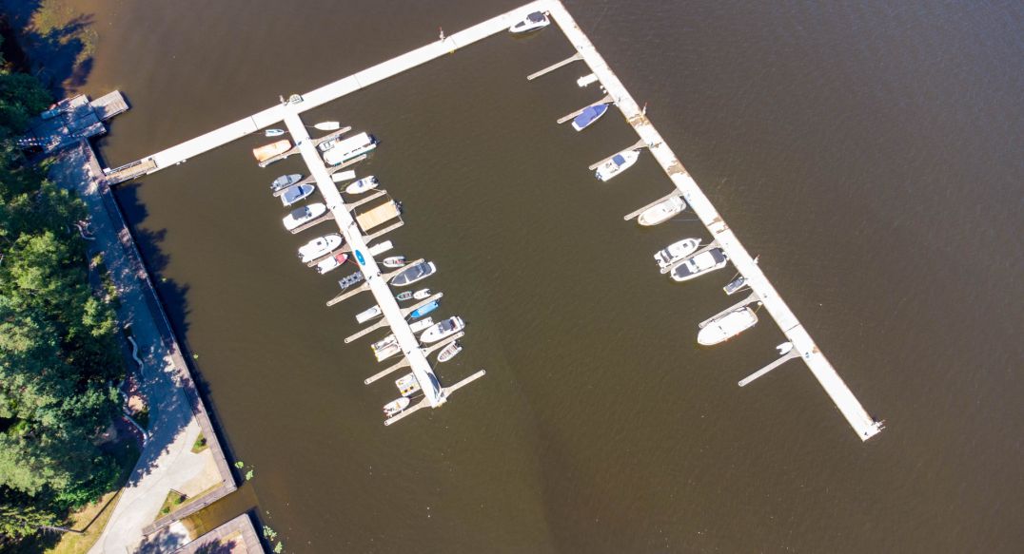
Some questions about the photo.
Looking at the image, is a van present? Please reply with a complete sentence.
No, the frame has no van in it.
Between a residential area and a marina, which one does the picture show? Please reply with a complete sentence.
It's a marina.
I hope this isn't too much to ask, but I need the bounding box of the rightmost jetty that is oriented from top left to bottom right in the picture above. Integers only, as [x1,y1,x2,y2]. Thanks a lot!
[541,0,881,443]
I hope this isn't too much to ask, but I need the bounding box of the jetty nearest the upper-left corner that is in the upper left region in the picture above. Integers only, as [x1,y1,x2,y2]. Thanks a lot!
[91,89,129,118]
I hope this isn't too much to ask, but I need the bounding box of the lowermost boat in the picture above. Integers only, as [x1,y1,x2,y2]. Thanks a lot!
[383,394,422,415]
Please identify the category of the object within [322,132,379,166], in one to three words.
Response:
boat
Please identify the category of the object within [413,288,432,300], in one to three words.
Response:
boat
